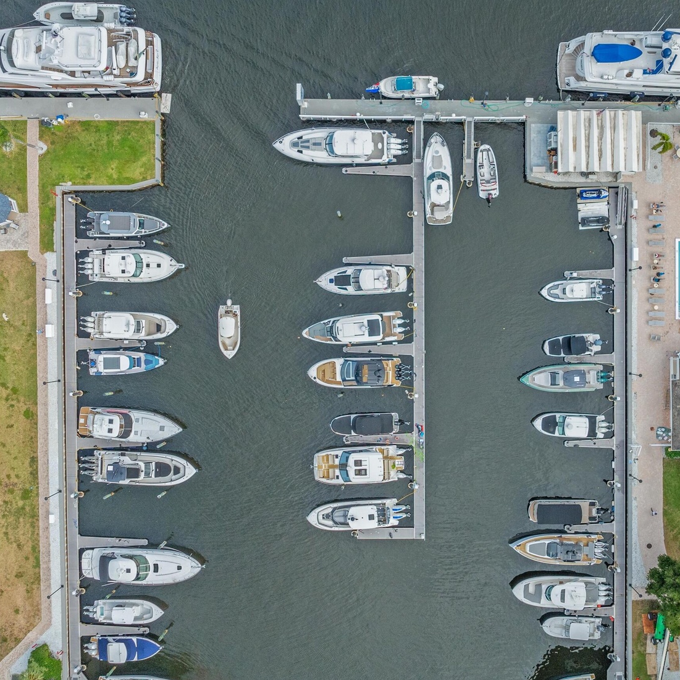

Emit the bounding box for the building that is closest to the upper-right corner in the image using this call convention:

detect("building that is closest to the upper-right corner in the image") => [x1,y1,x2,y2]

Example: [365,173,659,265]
[557,109,651,175]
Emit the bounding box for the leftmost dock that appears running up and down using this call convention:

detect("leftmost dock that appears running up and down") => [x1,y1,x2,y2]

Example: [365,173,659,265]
[65,195,151,680]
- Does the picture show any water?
Yes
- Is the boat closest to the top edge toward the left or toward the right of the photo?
left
